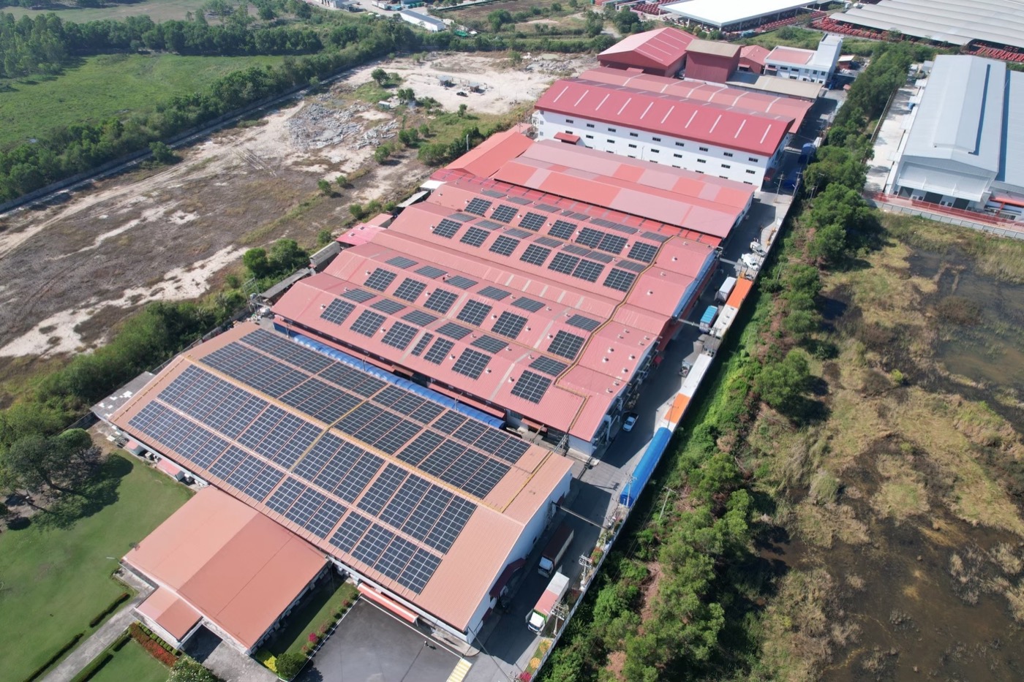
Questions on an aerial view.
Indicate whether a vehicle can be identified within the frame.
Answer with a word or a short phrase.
Yes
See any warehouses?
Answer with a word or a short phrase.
Yes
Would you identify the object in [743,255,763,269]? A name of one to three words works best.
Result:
vehicle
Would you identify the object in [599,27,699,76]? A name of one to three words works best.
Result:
barn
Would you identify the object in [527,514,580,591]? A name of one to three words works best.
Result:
truck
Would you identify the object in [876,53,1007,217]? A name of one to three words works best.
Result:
warehouse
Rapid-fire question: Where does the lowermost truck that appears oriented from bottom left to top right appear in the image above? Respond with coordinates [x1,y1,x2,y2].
[525,562,576,640]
